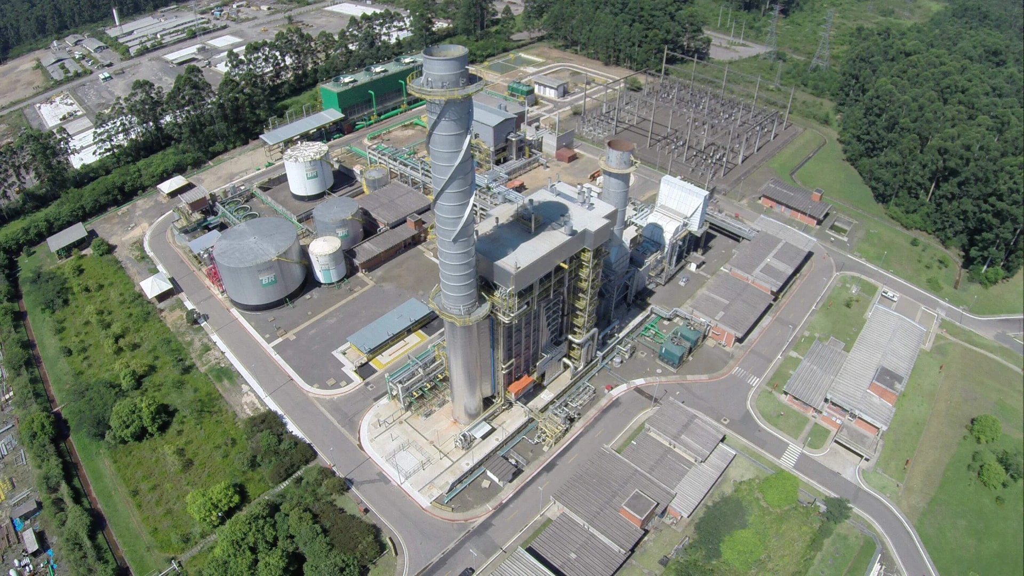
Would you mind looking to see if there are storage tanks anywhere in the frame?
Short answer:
Yes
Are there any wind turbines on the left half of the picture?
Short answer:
No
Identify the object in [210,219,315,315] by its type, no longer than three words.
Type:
storage tank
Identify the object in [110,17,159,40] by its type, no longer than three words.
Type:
shed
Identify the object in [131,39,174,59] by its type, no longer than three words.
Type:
shed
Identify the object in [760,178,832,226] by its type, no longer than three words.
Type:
building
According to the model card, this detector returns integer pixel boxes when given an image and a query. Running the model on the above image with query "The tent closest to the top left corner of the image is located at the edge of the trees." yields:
[157,175,193,200]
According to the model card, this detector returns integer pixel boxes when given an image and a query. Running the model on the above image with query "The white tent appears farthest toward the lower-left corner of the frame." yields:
[140,272,176,306]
